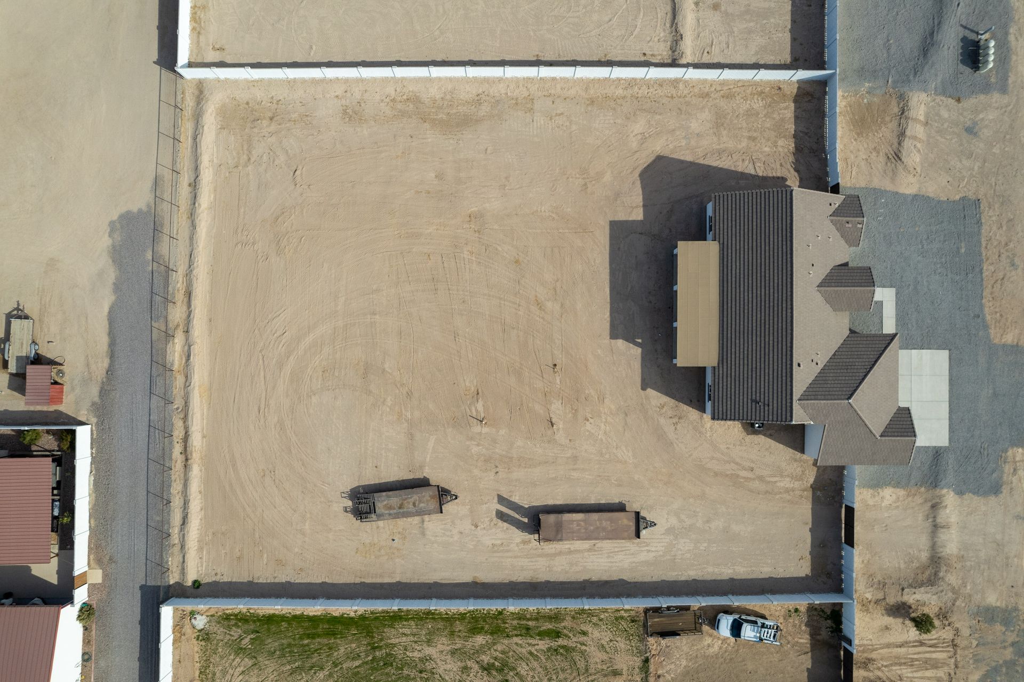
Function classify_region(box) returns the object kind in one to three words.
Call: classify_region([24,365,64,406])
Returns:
shed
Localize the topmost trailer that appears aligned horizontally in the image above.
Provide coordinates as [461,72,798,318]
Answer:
[355,485,458,521]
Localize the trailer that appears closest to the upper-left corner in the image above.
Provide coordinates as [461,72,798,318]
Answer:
[0,305,36,373]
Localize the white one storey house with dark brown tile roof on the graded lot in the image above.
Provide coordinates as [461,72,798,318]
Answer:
[675,186,917,465]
